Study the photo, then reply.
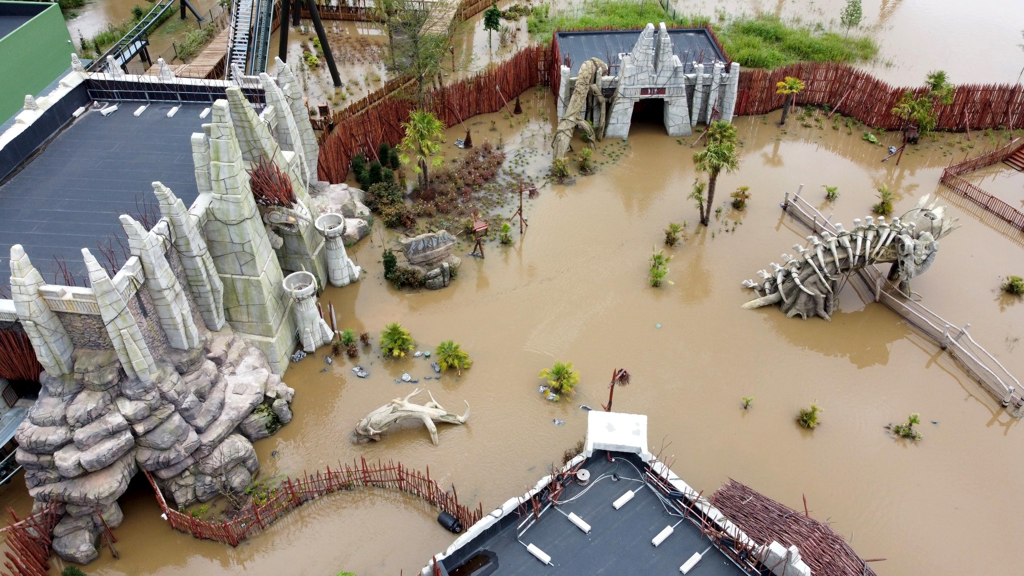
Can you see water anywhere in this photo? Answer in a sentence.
Yes, there is water in the image.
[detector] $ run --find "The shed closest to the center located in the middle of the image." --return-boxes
[471,216,491,257]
